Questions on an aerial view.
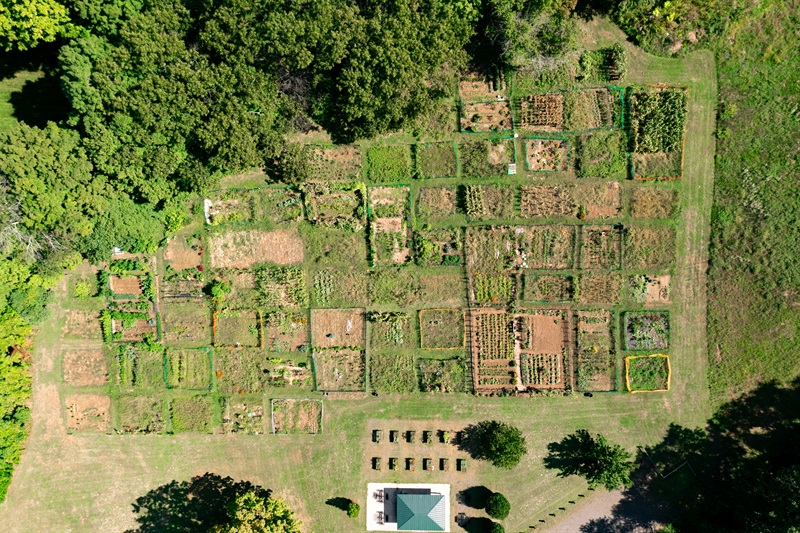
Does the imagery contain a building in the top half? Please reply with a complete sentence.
No, in the top half there is no building.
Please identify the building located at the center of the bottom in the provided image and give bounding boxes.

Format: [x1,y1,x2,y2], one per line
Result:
[397,491,445,531]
